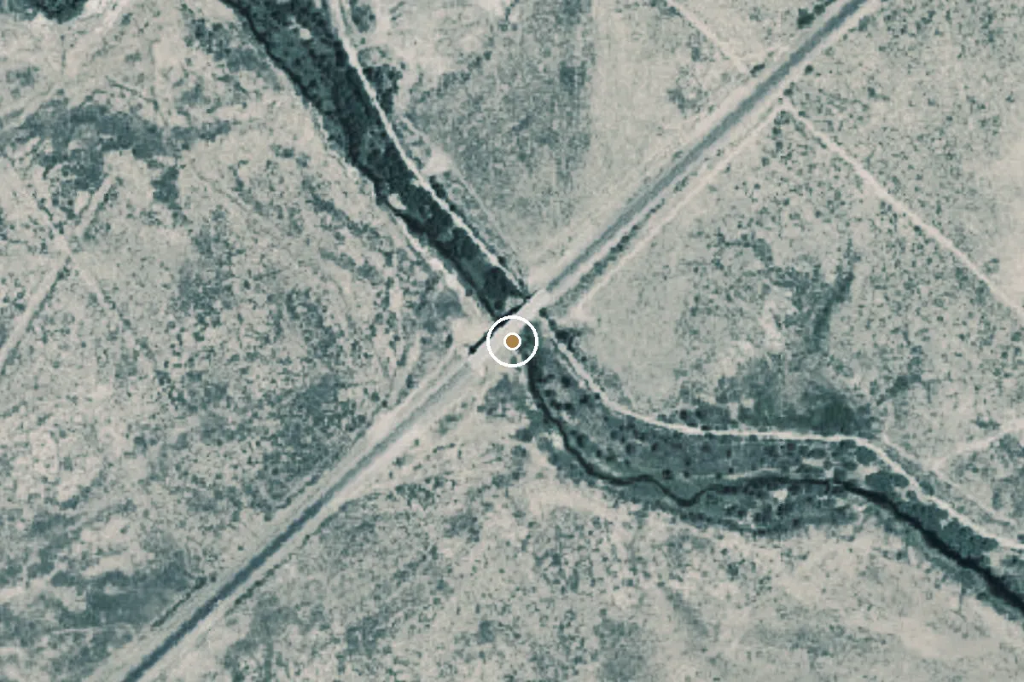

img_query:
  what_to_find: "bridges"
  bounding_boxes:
[464,285,557,374]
